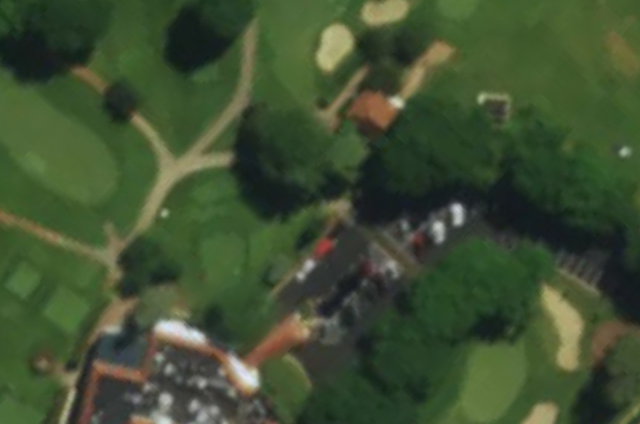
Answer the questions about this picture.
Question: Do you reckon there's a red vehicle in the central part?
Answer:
Yes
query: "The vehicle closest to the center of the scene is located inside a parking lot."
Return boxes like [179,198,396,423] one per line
[316,239,333,257]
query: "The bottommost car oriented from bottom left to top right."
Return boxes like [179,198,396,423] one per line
[297,261,313,279]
